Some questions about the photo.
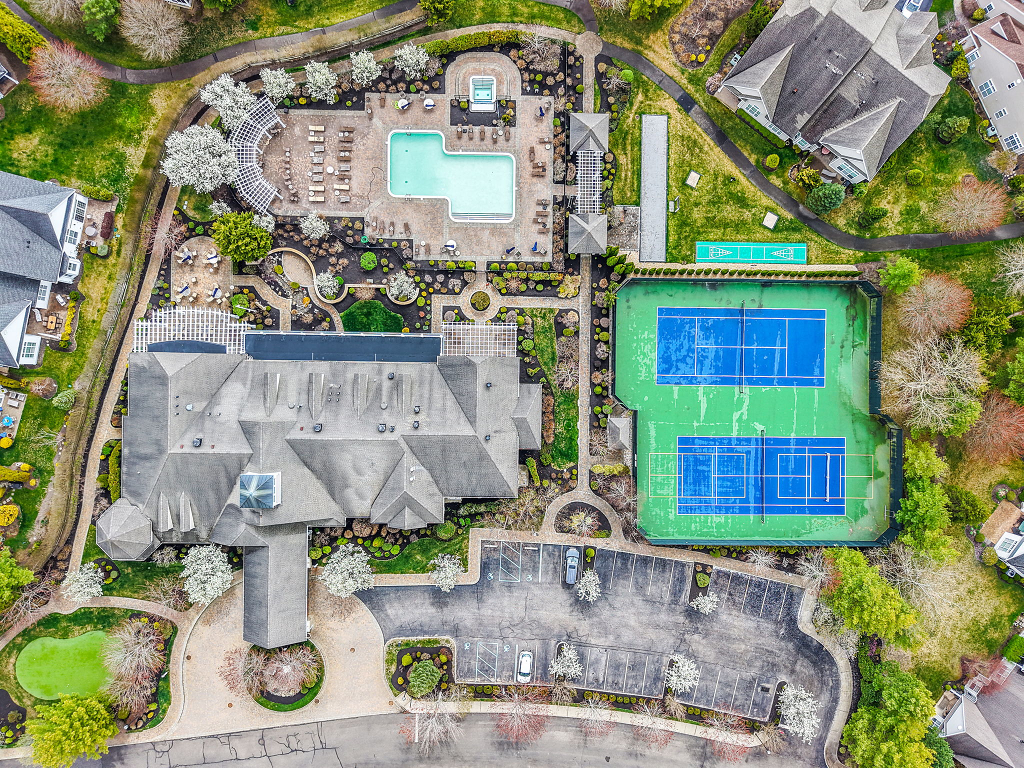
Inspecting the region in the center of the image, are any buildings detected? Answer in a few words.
Yes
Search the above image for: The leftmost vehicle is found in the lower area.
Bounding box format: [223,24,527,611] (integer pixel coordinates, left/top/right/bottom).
[517,650,533,682]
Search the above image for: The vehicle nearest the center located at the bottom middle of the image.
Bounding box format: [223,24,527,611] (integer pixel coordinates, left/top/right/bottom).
[564,547,581,584]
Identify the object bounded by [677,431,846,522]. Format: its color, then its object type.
blue tennis court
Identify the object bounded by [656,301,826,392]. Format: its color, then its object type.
blue tennis court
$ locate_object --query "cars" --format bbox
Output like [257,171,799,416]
[903,0,924,16]
[517,650,533,682]
[564,547,581,584]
